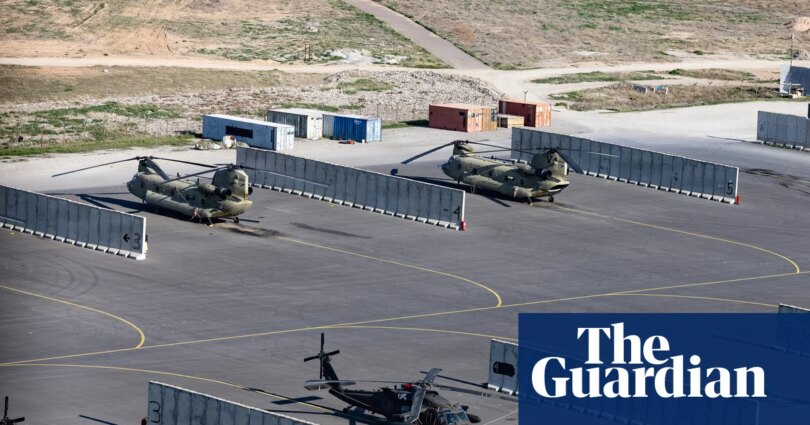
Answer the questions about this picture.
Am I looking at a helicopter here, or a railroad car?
helicopter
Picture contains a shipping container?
Yes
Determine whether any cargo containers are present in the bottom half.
No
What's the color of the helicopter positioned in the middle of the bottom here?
black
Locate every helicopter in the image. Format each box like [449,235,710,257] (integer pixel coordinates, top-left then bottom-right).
[0,394,24,425]
[393,140,621,204]
[52,157,330,224]
[301,334,547,425]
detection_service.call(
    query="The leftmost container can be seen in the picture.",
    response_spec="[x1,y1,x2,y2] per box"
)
[203,112,293,150]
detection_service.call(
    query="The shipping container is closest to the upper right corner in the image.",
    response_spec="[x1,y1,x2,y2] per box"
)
[498,97,551,127]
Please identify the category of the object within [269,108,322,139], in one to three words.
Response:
shipping container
